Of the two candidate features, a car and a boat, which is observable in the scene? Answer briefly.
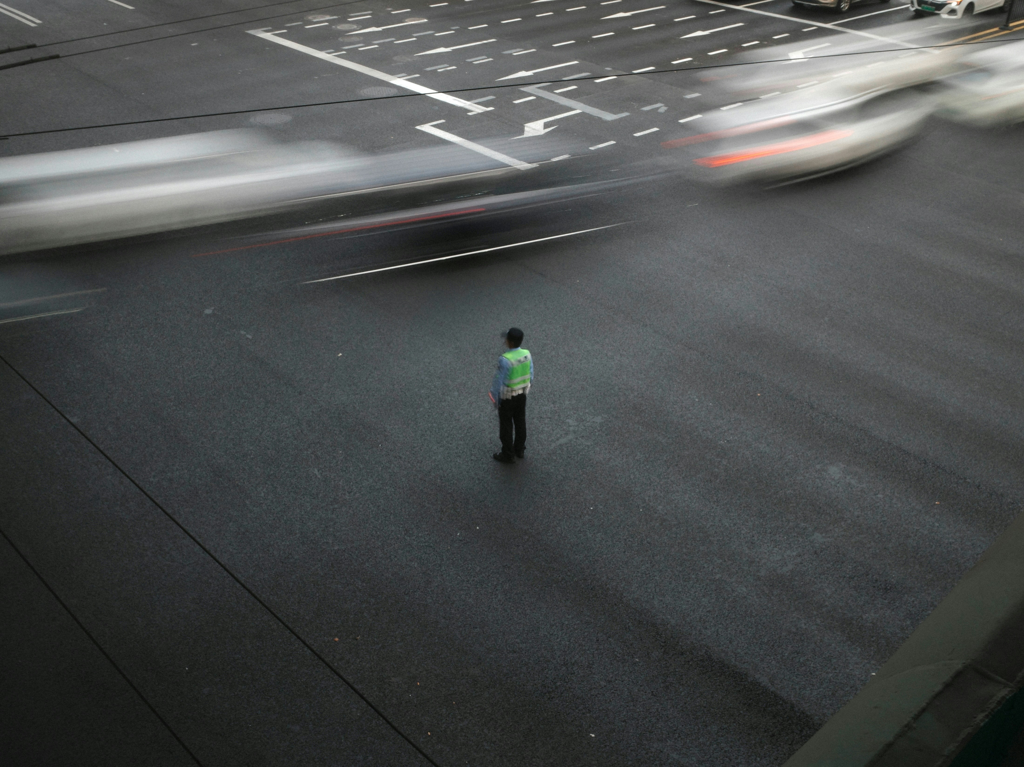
car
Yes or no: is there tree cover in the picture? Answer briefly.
No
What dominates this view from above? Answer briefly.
paved ground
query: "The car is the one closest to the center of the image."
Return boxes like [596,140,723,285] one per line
[320,152,614,276]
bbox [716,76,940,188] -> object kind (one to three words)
car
